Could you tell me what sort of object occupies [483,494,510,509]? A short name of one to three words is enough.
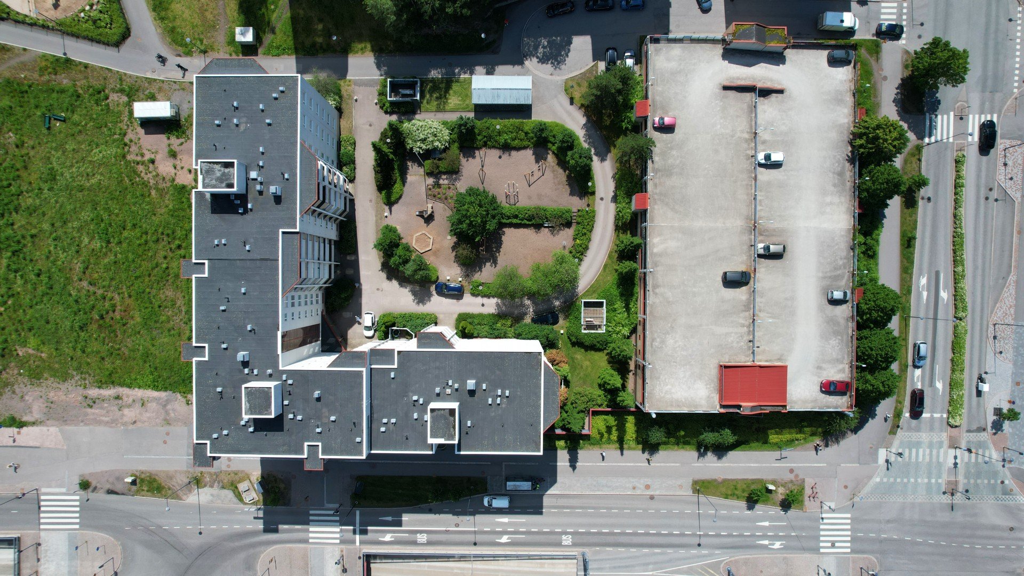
vehicle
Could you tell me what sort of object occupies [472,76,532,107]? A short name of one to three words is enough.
shed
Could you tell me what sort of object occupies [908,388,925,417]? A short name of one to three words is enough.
car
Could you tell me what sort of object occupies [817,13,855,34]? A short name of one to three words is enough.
truck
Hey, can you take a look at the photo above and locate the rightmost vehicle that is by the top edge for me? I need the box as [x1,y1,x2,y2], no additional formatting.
[875,22,904,37]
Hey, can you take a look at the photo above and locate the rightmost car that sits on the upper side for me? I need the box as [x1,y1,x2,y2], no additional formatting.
[979,119,997,150]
